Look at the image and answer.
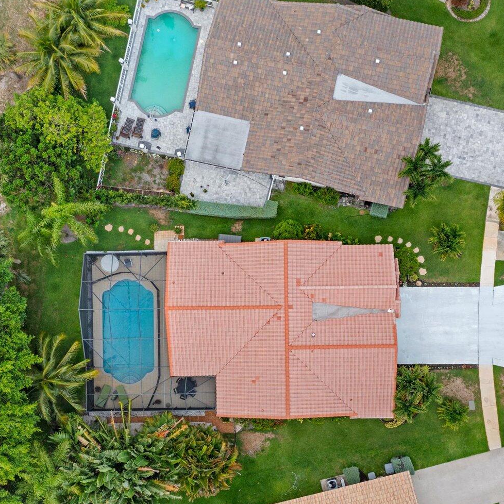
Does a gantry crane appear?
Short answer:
No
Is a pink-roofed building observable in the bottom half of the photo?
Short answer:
Yes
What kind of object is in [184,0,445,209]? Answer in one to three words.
house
